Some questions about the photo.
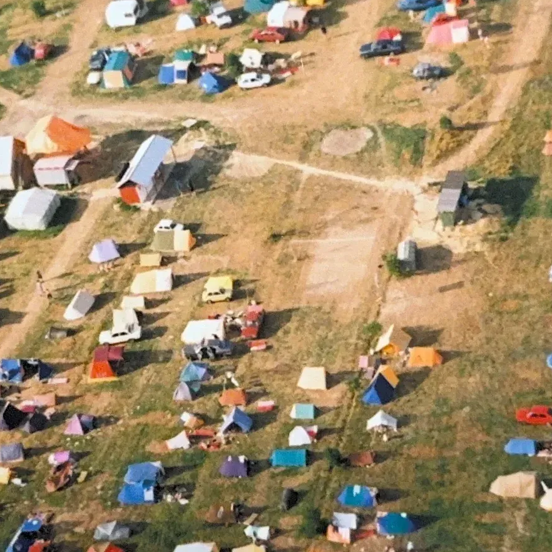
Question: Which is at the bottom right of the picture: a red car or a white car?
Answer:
red car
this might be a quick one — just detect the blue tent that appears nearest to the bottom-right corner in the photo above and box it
[503,437,536,458]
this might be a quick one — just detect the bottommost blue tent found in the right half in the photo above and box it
[374,511,422,536]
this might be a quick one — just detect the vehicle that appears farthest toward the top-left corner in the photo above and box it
[36,33,55,61]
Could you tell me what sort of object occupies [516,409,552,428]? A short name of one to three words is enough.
car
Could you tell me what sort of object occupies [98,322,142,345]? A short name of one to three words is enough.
car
